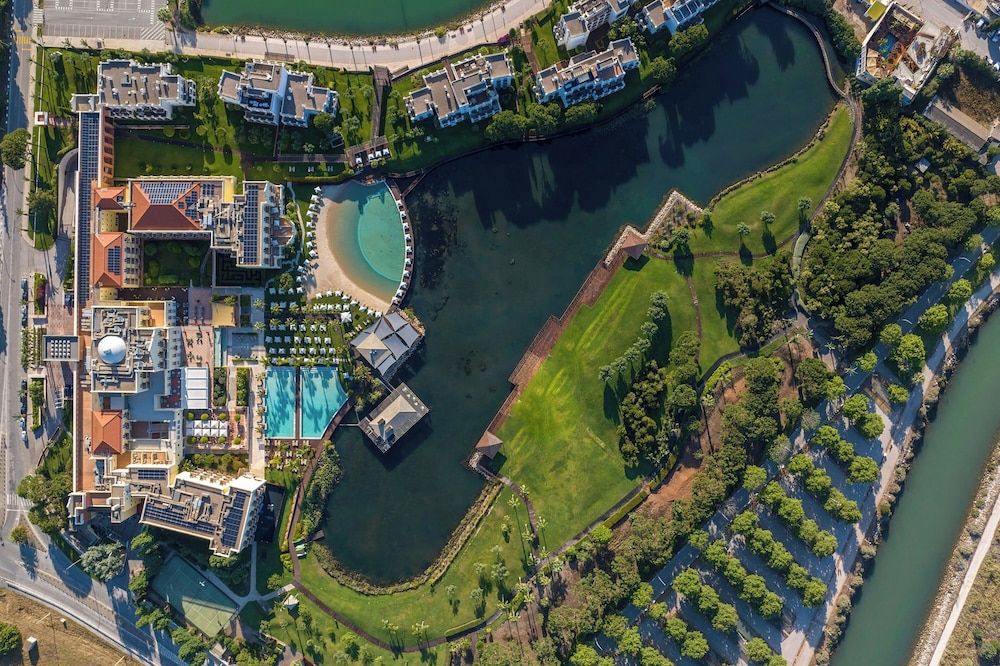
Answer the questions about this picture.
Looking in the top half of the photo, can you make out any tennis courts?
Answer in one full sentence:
No, no tennis court can be made out in the top half of the photo.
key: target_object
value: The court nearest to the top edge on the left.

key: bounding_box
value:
[145,556,238,643]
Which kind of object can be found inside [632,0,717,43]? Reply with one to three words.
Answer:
building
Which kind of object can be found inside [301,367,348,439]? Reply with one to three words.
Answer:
swimming pool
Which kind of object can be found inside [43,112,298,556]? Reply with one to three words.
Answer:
building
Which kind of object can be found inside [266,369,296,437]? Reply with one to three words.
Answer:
swimming pool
